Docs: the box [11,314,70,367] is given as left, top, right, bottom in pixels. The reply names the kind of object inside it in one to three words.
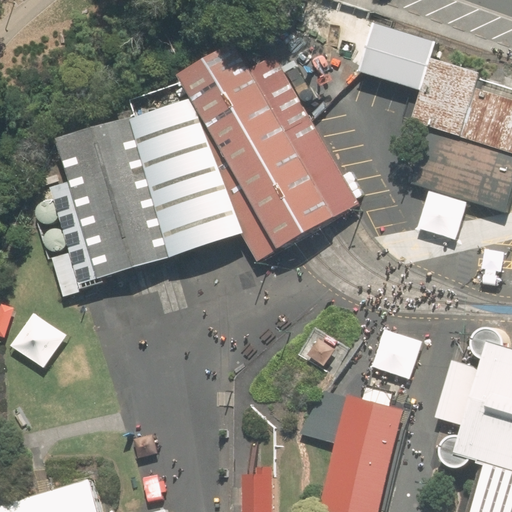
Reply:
tent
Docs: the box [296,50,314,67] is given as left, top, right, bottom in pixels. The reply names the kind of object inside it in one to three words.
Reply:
work vehicle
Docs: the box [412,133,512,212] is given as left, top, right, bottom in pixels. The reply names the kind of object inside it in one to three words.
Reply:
building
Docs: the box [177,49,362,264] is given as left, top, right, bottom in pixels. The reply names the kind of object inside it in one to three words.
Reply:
shed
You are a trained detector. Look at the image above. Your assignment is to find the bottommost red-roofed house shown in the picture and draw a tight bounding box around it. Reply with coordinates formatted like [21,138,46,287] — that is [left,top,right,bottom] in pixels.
[242,467,276,512]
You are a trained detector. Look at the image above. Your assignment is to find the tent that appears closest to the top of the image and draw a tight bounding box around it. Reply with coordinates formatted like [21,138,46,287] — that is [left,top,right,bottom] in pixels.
[418,191,468,240]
